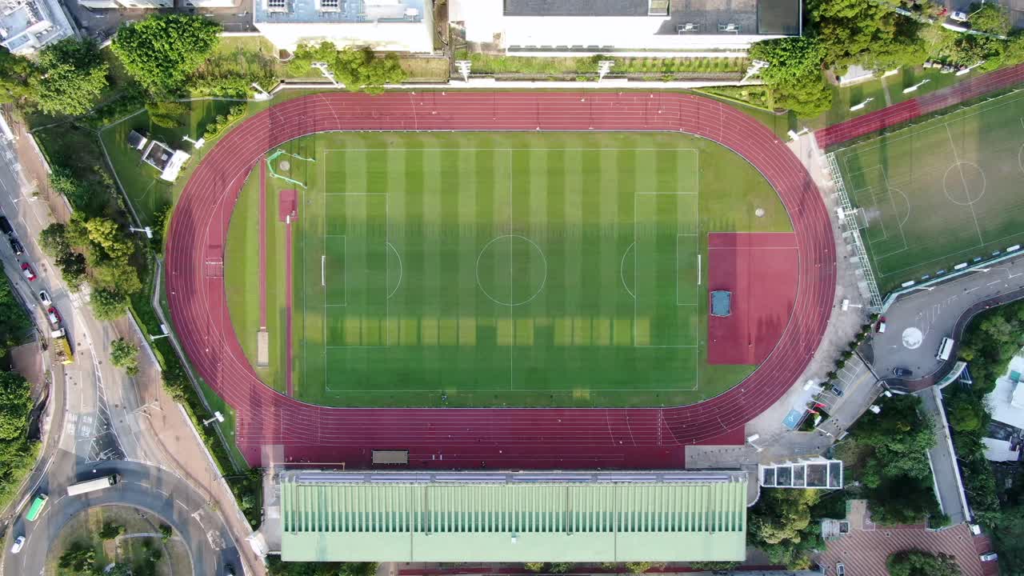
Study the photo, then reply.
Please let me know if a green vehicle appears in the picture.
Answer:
Yes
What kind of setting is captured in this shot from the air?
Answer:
sports ground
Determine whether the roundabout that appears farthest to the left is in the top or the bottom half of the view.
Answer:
bottom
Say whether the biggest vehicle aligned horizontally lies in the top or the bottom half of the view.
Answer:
bottom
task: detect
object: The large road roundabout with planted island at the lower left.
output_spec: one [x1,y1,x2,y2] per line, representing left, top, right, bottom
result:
[1,461,239,576]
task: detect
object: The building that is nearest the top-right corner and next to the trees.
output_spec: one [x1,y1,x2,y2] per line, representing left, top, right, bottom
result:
[836,60,877,85]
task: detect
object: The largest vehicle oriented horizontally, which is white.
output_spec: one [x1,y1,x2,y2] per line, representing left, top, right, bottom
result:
[66,475,119,495]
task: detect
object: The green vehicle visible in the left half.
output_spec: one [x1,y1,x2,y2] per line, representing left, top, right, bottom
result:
[27,492,49,521]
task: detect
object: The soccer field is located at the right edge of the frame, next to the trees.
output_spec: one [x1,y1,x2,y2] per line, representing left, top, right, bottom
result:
[825,87,1024,291]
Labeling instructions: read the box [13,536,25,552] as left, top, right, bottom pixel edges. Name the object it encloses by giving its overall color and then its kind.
white vehicle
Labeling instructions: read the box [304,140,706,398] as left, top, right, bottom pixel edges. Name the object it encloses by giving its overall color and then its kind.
green soccer field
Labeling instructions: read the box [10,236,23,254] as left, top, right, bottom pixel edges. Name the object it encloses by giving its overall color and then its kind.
black vehicle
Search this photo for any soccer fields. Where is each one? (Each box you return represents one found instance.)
[825,87,1024,291]
[304,140,706,398]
